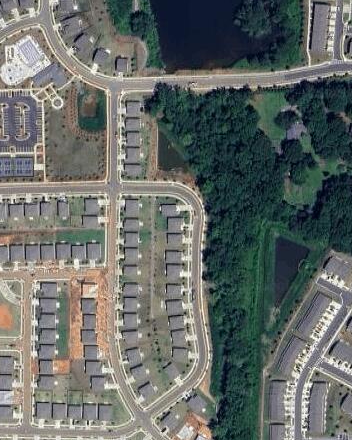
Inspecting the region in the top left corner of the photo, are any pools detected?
Yes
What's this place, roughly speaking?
residential area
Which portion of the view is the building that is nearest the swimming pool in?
top left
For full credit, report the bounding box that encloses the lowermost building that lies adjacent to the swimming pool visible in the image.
[31,60,70,90]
